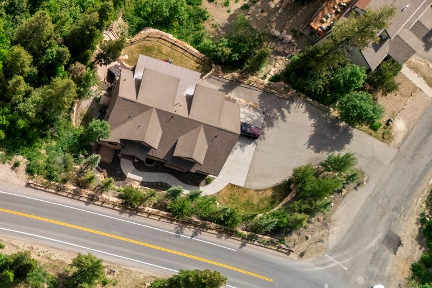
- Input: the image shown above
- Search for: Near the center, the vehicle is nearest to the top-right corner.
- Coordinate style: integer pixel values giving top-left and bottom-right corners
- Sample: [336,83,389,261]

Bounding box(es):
[240,122,265,140]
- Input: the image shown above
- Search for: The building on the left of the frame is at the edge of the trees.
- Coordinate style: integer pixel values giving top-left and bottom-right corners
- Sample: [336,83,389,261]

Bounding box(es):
[96,54,240,178]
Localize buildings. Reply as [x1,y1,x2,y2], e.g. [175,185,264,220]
[96,54,240,178]
[338,0,432,76]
